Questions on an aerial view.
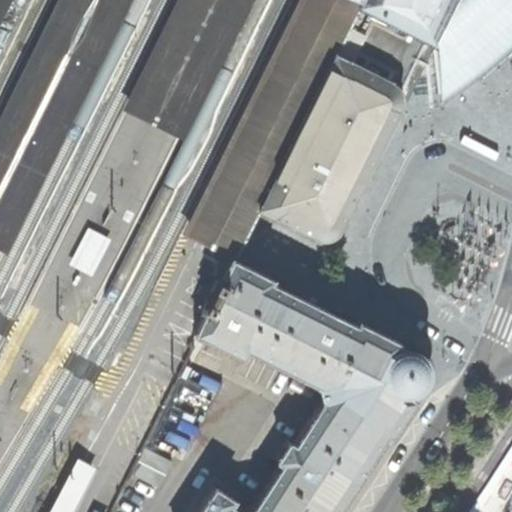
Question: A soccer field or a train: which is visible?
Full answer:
The one in the frame is a train.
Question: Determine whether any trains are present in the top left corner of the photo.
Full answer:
Yes, a train can be seen in the top left corner of the photo.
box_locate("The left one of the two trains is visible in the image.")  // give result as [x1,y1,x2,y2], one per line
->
[68,0,148,140]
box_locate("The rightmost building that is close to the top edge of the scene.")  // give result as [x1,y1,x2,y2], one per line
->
[437,0,512,103]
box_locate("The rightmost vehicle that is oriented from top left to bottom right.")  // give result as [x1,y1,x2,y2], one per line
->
[442,337,465,356]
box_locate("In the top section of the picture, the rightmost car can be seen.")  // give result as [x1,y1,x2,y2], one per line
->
[424,146,446,158]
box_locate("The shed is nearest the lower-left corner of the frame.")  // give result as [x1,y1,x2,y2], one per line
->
[50,458,96,512]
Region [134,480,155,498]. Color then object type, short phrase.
white car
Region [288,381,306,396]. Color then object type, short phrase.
white vehicle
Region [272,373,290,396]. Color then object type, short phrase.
white vehicle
